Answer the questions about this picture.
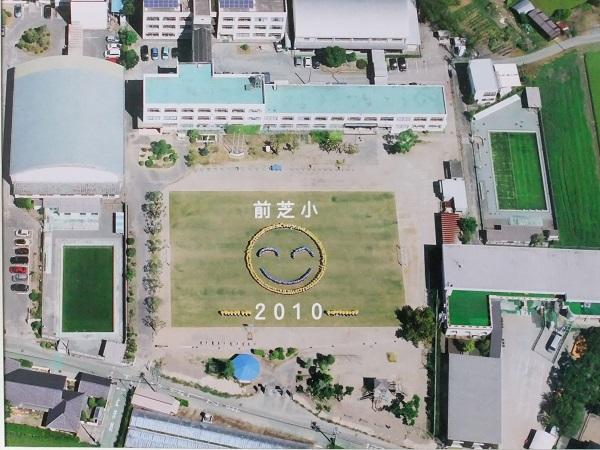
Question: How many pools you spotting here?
two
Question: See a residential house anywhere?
Yes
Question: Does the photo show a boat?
No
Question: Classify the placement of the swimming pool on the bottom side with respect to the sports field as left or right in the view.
left of it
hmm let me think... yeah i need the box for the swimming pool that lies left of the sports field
[45,232,124,347]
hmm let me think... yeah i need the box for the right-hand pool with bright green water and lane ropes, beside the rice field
[472,104,554,230]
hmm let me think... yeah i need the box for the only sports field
[169,191,405,327]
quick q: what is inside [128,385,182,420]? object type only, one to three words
shed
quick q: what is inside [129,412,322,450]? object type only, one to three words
greenhouse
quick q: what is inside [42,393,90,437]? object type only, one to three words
house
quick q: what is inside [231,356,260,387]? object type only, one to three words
building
